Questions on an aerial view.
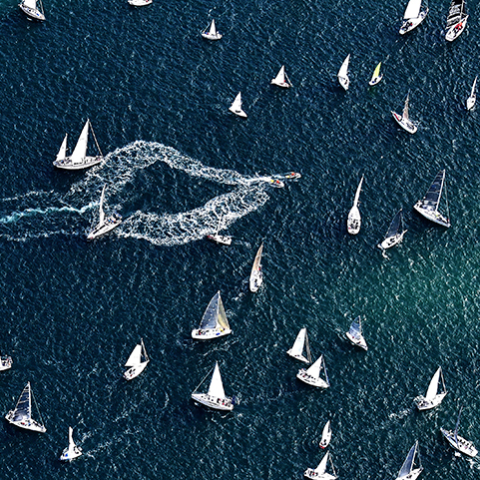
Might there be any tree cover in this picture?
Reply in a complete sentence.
No, no tree cover is visible.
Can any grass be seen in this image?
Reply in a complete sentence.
No, the scene doesn't show any grass.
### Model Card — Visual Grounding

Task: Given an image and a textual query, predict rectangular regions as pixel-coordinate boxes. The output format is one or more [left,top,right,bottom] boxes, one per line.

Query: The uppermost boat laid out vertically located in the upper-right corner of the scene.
[447,0,468,41]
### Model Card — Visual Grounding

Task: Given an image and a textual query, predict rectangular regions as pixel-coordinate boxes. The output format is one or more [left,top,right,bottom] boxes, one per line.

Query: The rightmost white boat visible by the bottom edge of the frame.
[441,408,479,457]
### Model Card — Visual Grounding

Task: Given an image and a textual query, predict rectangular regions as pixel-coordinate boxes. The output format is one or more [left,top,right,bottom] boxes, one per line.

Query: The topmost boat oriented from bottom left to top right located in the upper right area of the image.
[398,0,428,33]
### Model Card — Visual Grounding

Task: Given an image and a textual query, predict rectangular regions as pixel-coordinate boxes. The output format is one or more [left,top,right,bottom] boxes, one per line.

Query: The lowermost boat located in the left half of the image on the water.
[61,429,82,460]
